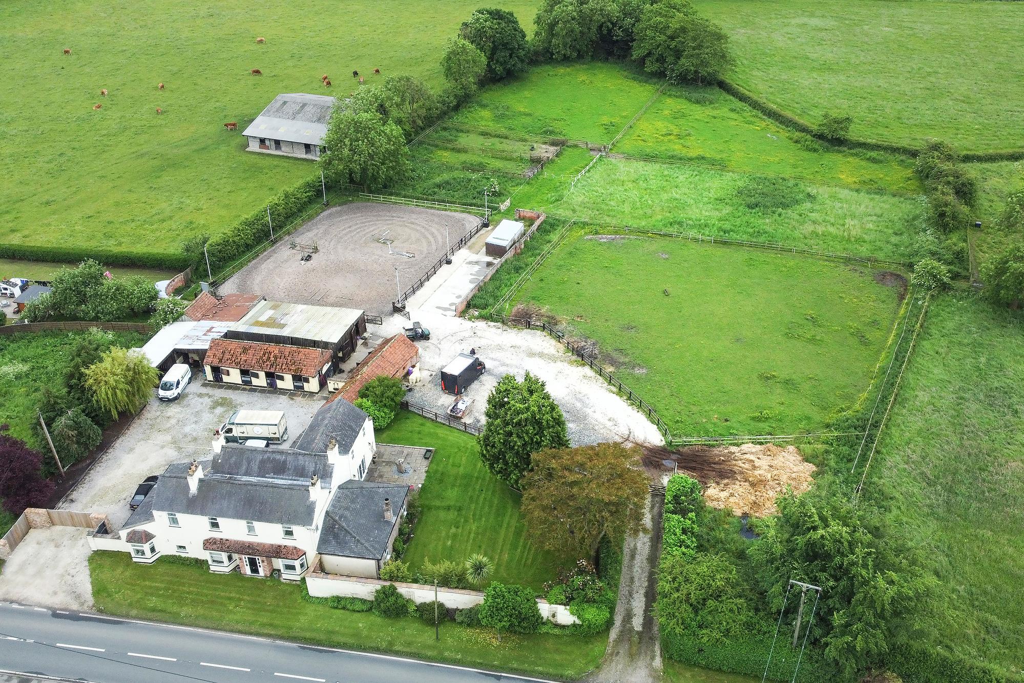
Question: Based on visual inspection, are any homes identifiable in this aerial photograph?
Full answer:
Yes, a home is visible in the scene.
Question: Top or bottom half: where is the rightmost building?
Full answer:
The top half of the photo is where the rightmost building is.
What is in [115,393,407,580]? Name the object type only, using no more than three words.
house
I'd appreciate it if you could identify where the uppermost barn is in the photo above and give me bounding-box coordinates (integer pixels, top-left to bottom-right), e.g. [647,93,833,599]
[240,85,355,163]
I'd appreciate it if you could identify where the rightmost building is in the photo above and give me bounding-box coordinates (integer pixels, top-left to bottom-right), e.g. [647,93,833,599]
[485,218,524,257]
